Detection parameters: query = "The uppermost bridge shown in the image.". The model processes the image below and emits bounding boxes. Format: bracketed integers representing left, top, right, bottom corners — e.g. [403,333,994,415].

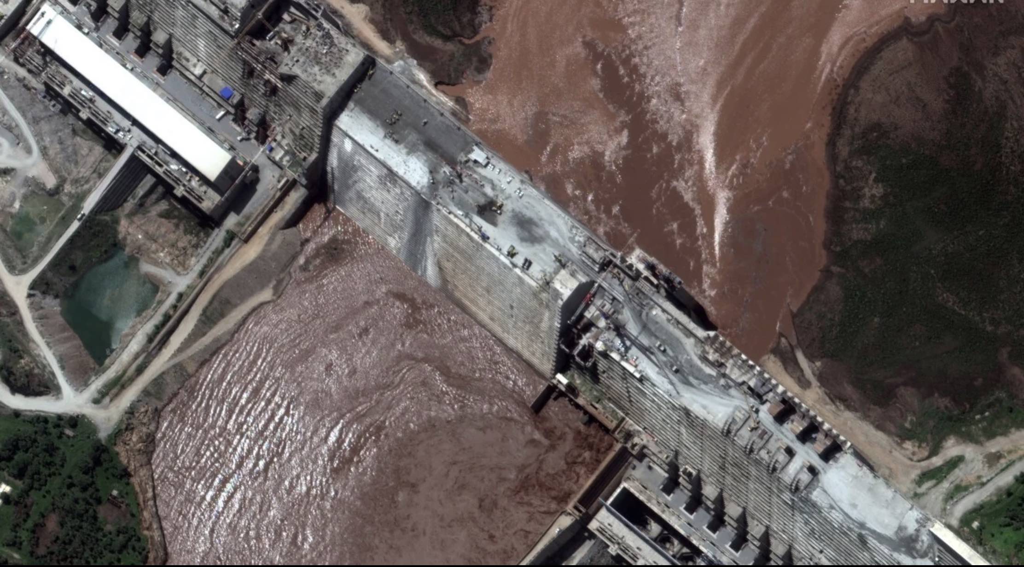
[74,146,145,230]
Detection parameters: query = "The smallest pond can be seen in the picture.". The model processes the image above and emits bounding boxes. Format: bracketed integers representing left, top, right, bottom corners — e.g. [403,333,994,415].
[58,248,160,367]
